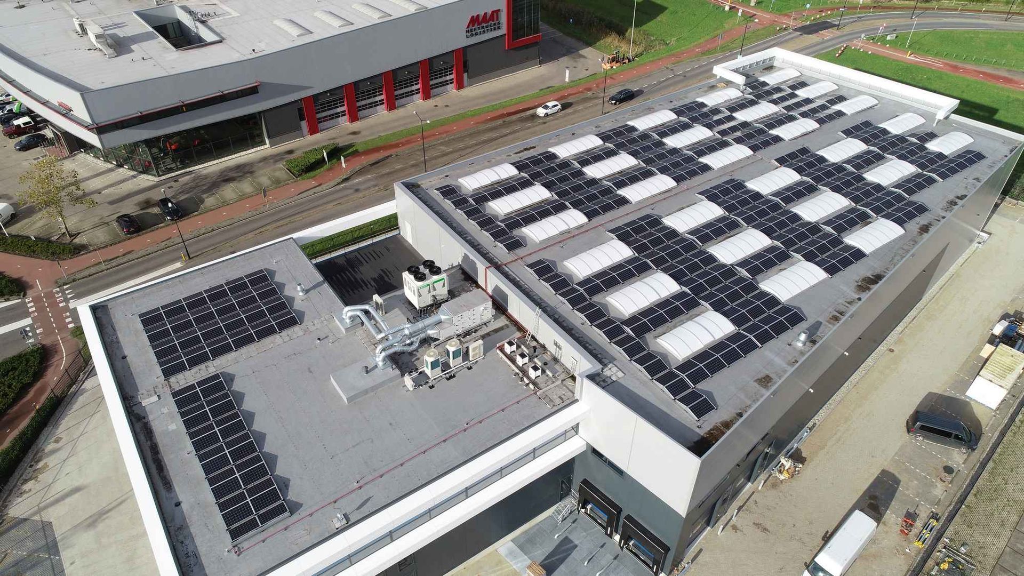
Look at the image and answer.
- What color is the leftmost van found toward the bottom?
white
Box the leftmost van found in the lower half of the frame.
[803,509,878,576]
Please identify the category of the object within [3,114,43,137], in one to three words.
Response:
vehicle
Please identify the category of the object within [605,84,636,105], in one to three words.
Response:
car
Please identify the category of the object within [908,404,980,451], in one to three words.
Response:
van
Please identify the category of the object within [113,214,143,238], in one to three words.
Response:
car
